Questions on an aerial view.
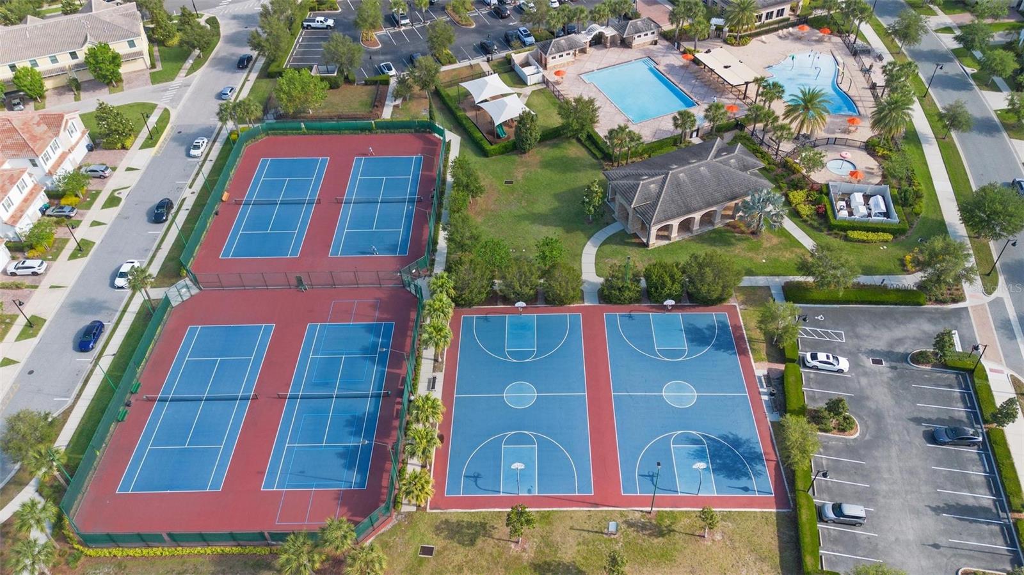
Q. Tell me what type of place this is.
sports ground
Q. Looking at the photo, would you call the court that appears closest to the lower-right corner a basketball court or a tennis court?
basketball court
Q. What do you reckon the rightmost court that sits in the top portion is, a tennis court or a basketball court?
tennis court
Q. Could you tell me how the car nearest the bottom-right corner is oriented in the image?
from side to side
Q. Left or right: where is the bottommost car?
right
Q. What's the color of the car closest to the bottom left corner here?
blue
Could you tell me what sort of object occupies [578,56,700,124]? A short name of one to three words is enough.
swimming pool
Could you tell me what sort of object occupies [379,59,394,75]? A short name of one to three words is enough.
car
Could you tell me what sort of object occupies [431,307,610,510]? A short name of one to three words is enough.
basketball court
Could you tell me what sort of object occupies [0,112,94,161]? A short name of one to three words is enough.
house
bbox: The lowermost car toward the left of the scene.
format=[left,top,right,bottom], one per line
[75,318,104,352]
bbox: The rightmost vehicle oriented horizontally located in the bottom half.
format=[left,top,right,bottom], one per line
[932,423,987,447]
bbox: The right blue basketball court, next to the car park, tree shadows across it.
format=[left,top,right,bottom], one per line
[592,304,791,511]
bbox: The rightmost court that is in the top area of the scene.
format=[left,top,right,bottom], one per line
[304,136,441,287]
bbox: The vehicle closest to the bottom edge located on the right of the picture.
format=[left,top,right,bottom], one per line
[821,499,872,526]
